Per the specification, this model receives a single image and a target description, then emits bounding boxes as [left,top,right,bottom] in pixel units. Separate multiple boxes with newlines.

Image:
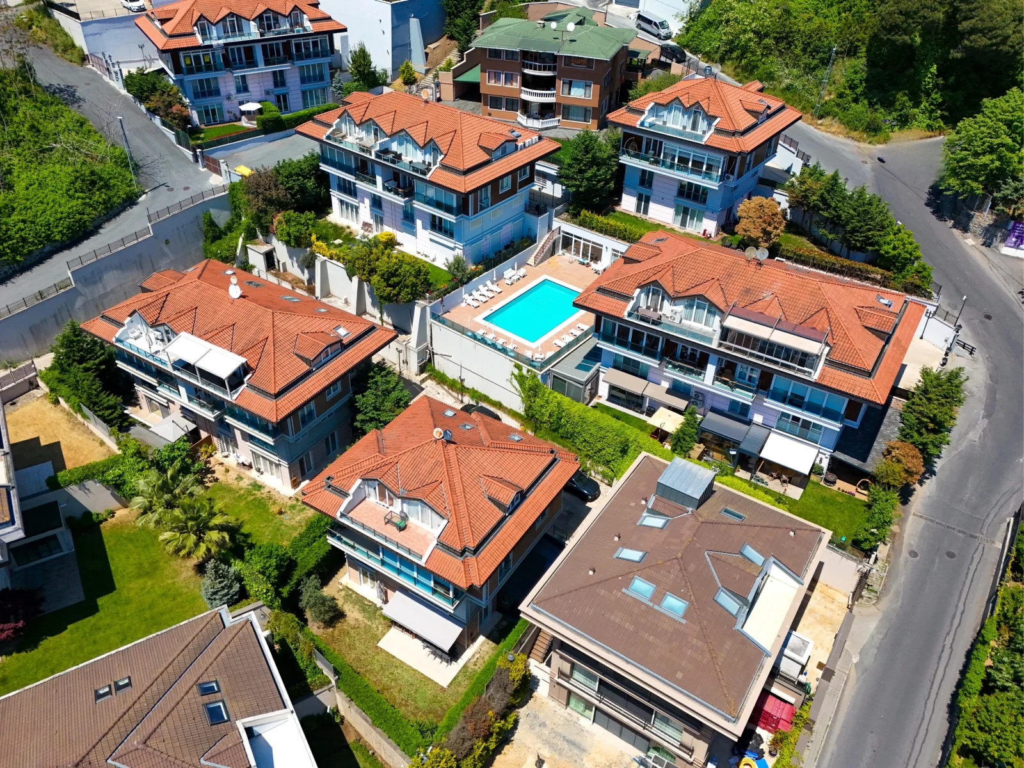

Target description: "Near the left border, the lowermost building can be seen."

[0,599,323,768]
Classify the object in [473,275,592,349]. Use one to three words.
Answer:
swimming pool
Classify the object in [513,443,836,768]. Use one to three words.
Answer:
house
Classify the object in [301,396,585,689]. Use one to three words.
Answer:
house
